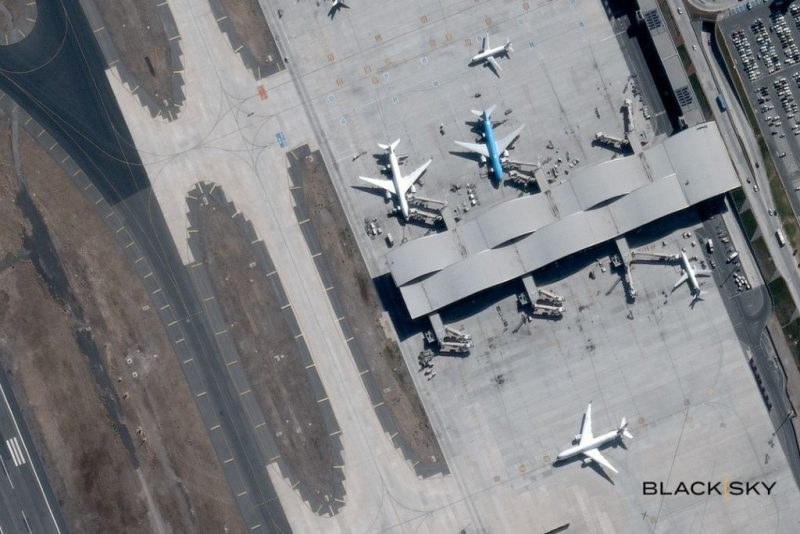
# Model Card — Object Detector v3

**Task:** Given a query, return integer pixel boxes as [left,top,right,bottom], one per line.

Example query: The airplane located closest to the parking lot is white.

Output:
[669,252,716,301]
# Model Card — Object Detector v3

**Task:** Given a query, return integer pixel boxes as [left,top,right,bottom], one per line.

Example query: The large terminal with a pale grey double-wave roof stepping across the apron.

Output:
[387,120,741,319]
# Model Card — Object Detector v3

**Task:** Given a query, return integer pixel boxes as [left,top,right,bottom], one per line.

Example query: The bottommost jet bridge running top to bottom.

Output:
[626,264,638,300]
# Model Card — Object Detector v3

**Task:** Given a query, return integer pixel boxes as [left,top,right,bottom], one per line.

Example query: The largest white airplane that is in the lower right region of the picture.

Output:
[558,404,633,472]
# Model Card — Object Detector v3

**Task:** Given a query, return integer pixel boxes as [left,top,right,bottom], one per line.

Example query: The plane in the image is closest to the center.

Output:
[358,140,434,220]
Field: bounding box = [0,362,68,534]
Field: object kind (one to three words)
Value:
runway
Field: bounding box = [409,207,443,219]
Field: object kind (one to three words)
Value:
jet bridge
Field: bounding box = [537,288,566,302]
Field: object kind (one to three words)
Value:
jet bridge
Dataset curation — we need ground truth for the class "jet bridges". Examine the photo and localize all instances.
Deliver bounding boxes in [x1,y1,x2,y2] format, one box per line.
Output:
[626,264,638,300]
[410,197,449,208]
[506,169,536,183]
[439,340,473,349]
[500,157,541,169]
[444,326,473,340]
[537,288,566,302]
[630,250,683,262]
[533,303,566,313]
[409,207,443,219]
